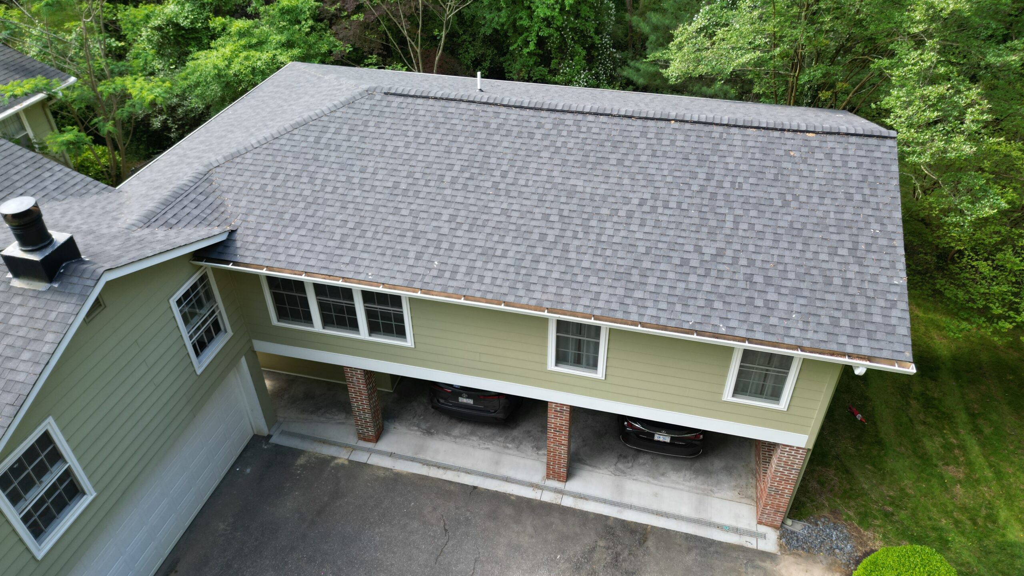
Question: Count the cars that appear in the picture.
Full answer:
The photo contains 2 cars.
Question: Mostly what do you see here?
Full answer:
Most of the picture is covered by buildings.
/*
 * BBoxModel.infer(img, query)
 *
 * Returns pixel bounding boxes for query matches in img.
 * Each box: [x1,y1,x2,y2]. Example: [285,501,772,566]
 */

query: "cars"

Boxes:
[618,416,708,458]
[431,382,521,422]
